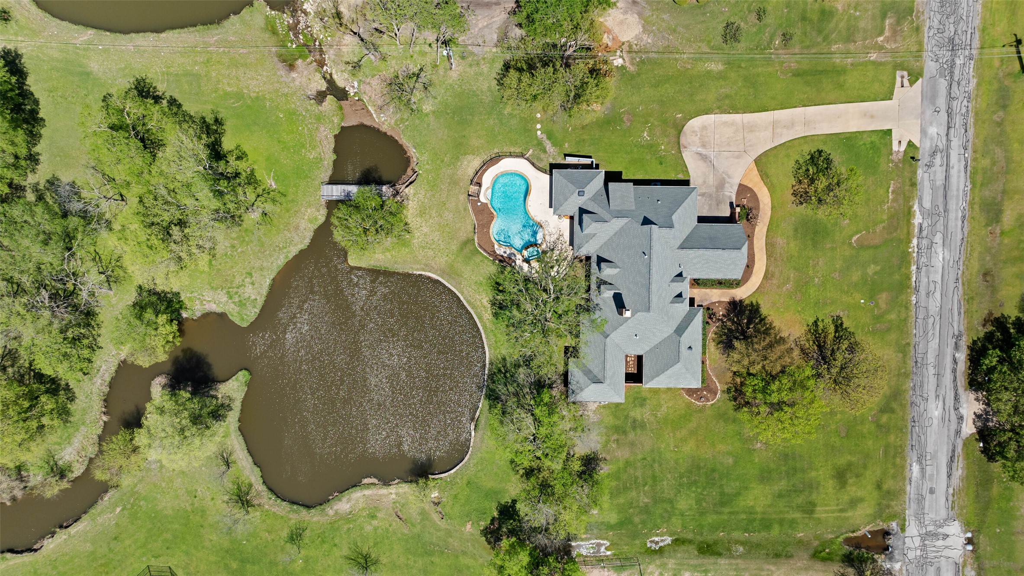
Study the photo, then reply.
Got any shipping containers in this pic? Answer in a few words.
No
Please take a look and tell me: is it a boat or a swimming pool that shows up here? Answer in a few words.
swimming pool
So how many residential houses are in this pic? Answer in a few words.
one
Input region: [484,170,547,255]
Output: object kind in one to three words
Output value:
swimming pool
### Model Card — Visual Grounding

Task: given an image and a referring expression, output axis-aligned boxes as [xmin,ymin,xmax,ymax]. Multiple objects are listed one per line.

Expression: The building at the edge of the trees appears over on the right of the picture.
[552,169,748,402]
